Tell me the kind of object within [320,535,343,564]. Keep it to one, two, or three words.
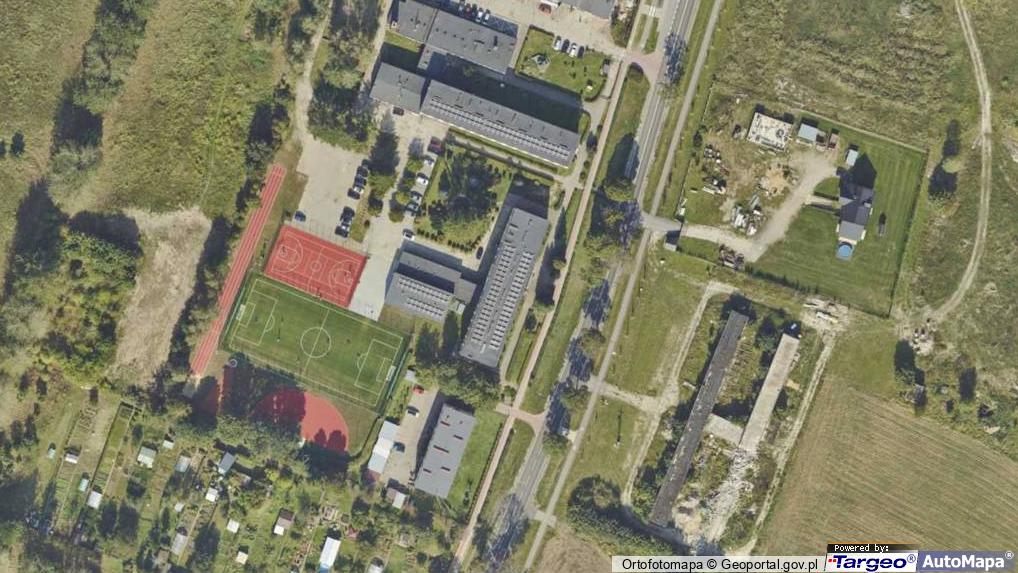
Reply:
shed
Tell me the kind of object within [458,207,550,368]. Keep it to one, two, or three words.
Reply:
building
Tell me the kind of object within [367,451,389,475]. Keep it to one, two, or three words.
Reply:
building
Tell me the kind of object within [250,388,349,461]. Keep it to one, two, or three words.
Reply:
sports field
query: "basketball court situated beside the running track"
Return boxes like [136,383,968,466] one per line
[264,226,366,307]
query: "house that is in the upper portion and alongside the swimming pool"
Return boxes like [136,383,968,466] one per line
[836,183,876,247]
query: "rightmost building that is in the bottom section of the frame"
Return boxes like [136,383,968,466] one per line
[739,333,800,453]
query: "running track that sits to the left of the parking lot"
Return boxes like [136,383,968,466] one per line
[192,164,287,377]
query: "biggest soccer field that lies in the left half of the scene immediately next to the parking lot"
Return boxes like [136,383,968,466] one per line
[219,273,411,414]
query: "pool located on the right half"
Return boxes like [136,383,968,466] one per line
[836,243,853,261]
